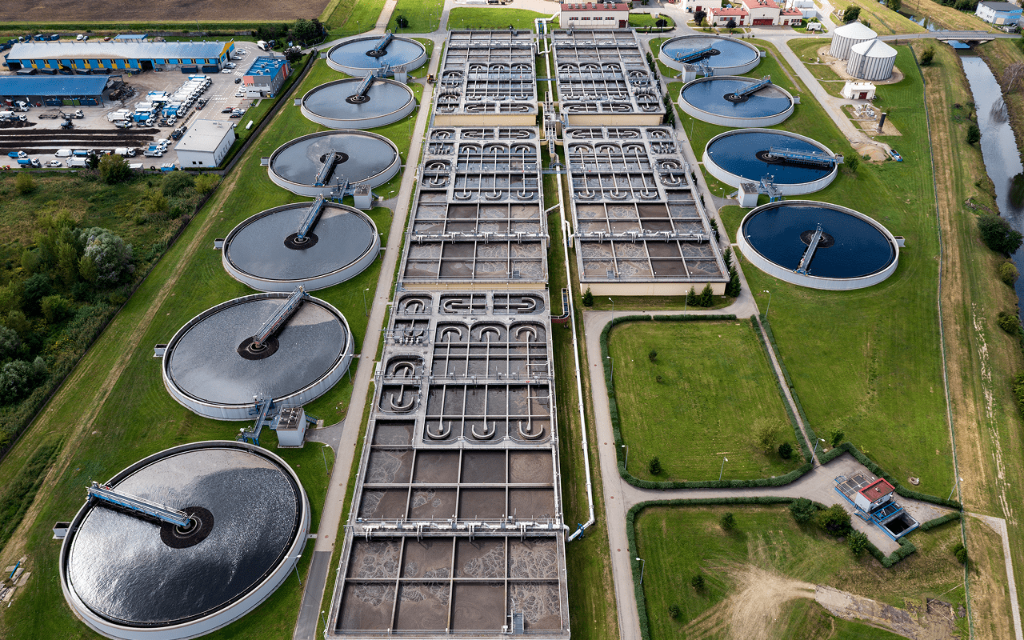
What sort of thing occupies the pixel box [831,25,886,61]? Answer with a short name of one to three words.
storage tank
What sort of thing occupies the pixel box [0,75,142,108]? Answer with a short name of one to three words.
shed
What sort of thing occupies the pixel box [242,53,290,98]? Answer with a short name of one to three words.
building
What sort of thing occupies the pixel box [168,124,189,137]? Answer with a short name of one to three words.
vehicle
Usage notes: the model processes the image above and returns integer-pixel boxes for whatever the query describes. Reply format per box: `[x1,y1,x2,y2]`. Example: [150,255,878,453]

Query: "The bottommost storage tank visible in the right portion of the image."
[736,199,899,291]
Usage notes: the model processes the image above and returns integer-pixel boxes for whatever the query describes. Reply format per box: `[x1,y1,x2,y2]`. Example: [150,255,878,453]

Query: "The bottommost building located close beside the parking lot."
[173,121,235,167]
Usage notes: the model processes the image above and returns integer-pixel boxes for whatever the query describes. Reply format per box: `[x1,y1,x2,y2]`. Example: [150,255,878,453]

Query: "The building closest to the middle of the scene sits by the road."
[352,183,391,209]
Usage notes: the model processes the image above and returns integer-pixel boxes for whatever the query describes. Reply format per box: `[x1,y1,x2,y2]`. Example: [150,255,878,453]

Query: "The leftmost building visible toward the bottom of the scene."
[274,407,334,448]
